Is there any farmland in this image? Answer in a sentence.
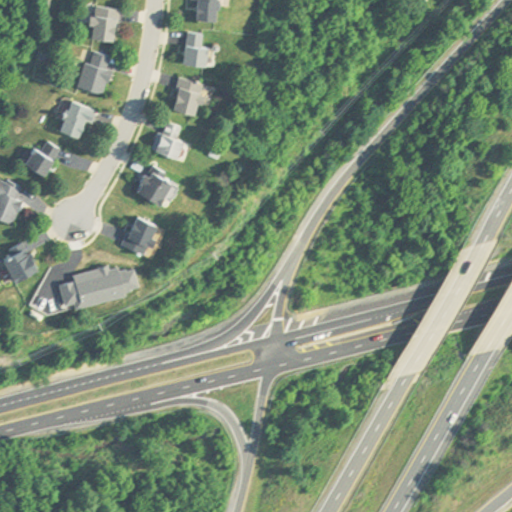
No, there's no farmland in this view.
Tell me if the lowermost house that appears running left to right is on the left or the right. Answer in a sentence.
You can find the lowermost house that appears running left to right on the left side of the picture.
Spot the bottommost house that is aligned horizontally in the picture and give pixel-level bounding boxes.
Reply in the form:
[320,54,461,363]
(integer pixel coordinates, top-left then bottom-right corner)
[58,264,136,309]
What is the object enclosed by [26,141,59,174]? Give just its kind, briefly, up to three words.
house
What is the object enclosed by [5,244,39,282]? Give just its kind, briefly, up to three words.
house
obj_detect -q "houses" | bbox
[5,244,39,282]
[182,33,214,68]
[26,141,59,174]
[78,51,115,94]
[173,78,208,115]
[60,100,96,136]
[154,121,187,158]
[0,178,25,219]
[196,0,218,23]
[122,216,162,250]
[139,166,174,203]
[58,264,136,309]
